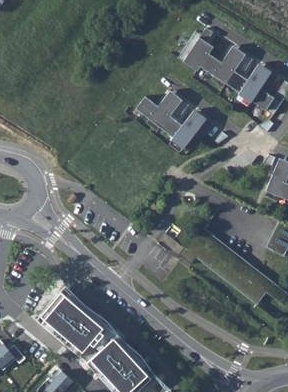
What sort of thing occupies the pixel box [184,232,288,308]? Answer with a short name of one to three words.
building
